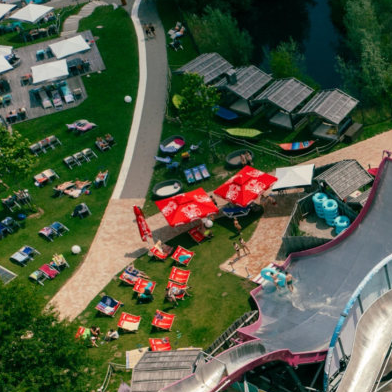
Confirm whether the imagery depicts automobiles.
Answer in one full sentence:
No, no automobile is visible in the view.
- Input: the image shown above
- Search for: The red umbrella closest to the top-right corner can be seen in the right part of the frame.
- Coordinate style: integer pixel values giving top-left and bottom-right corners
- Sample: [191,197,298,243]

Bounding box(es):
[214,166,276,215]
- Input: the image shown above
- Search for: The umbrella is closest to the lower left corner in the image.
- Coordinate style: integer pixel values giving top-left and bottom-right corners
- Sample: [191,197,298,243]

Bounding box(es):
[123,210,154,255]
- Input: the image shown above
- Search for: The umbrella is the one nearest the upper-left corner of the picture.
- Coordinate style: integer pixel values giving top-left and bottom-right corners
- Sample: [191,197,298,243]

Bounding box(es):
[0,2,18,35]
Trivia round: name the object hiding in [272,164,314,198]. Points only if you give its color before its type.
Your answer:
white umbrella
